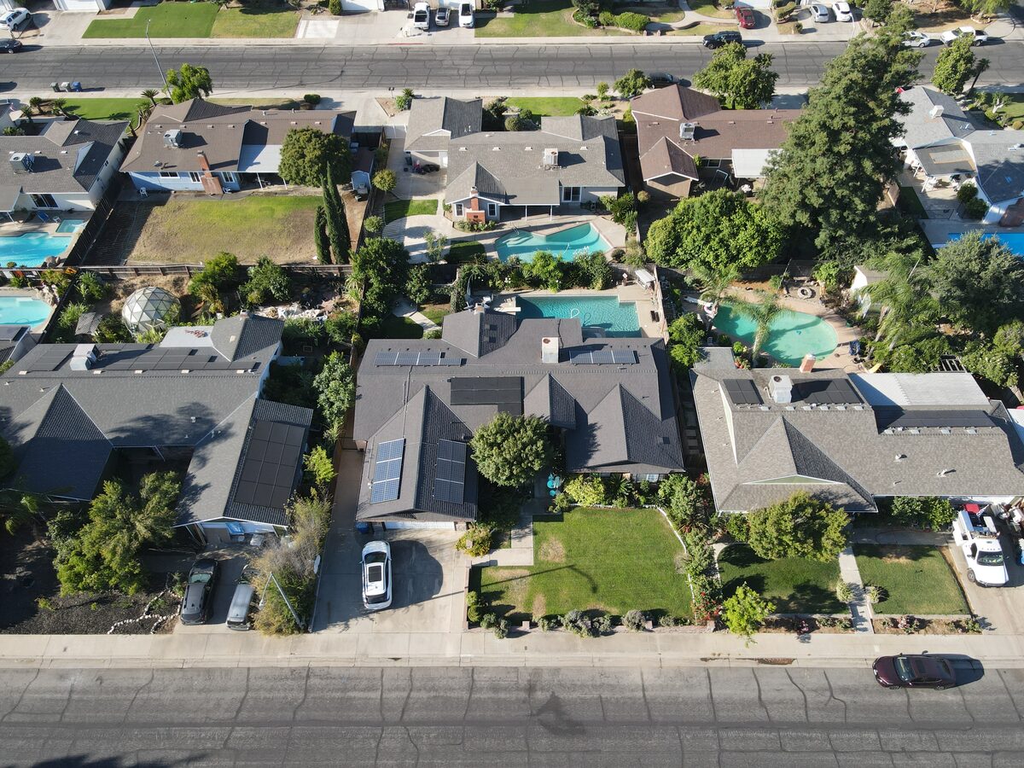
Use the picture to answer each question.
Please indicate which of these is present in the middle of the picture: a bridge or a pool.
pool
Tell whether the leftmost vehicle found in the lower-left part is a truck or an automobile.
automobile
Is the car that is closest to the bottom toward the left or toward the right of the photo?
right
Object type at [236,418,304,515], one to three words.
solar array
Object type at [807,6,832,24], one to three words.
car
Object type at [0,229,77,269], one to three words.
swimming pool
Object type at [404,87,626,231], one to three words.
house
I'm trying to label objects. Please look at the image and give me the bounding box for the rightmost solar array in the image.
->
[877,410,994,426]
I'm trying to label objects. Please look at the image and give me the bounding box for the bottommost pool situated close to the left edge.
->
[0,293,48,329]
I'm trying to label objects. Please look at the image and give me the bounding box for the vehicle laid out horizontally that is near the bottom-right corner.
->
[868,651,960,691]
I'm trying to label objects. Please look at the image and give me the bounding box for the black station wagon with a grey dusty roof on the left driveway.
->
[176,556,226,631]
